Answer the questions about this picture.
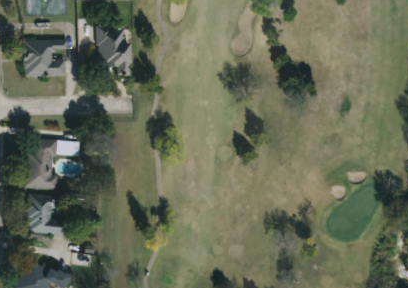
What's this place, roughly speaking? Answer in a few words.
golf course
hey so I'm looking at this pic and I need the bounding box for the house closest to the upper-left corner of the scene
[23,38,66,77]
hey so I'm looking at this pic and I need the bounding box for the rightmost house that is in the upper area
[82,24,134,78]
